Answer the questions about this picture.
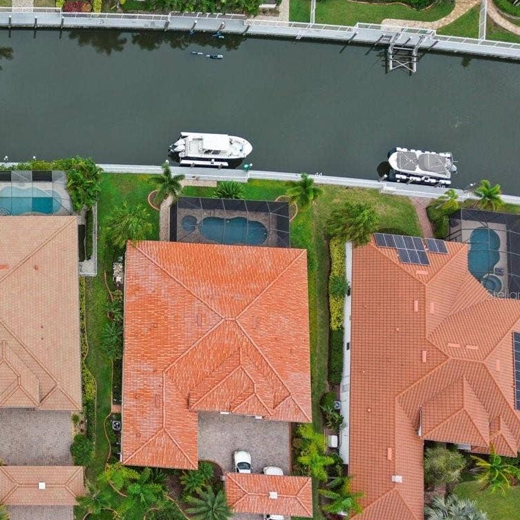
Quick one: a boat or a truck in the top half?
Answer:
boat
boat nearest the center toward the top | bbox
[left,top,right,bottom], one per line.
[167,133,253,164]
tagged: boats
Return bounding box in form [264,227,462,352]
[207,52,224,59]
[387,152,456,184]
[167,133,253,164]
[192,50,205,56]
